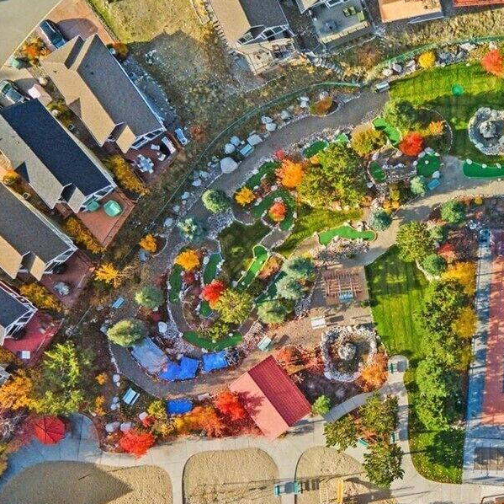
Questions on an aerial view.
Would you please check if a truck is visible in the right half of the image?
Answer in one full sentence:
No, no truck is visible in the right half of the image.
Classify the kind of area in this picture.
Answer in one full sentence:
It's a residential area.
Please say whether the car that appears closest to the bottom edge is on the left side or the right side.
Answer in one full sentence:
You can find the car that appears closest to the bottom edge on the left side of the picture.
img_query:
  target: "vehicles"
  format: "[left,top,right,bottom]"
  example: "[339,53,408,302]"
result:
[0,74,26,104]
[32,14,67,53]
